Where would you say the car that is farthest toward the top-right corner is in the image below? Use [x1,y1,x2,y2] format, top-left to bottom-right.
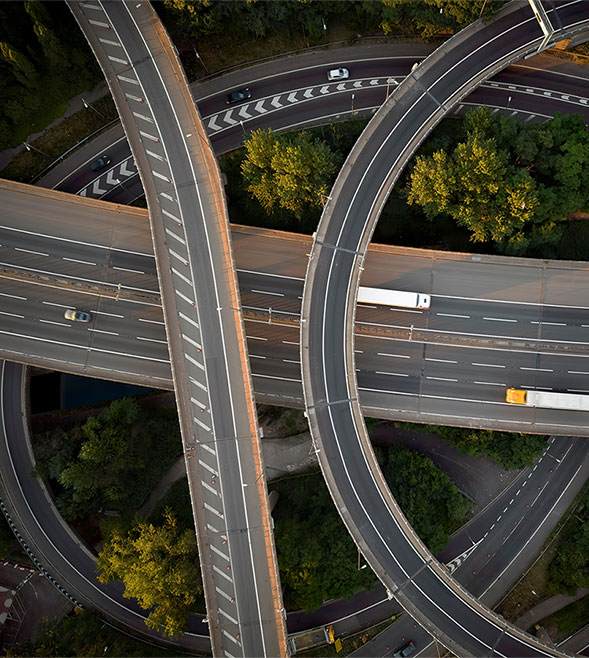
[327,69,349,82]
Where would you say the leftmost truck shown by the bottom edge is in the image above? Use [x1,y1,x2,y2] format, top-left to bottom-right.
[293,624,336,650]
